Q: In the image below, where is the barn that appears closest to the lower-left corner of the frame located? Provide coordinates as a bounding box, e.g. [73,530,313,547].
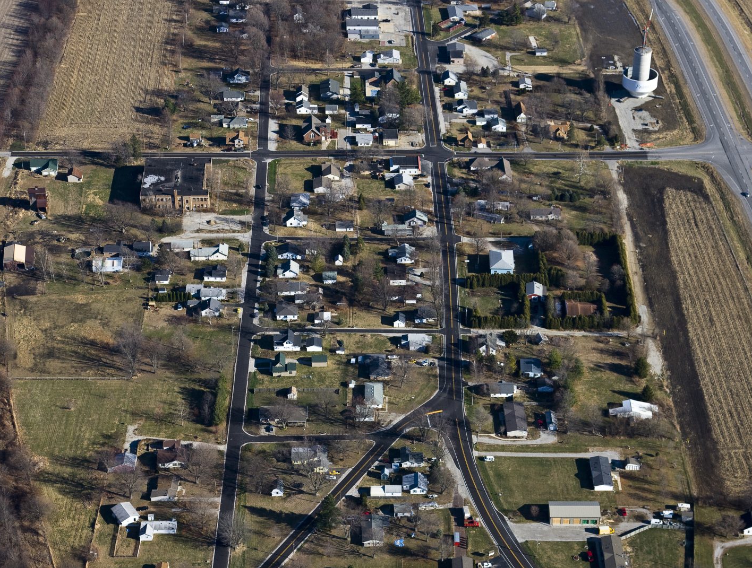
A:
[113,502,139,527]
